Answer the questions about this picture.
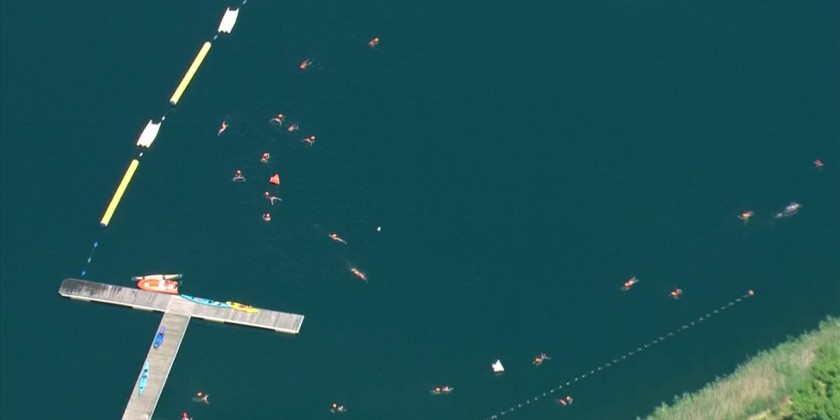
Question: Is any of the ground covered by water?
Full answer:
Yes, water shows up in the scene.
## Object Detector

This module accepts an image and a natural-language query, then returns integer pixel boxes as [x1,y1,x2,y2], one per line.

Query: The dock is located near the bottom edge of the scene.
[61,279,304,420]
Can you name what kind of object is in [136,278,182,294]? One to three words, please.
boat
